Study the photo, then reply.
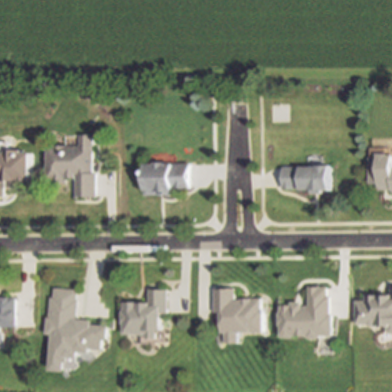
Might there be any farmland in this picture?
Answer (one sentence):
Yes, farmland shows up in the scene.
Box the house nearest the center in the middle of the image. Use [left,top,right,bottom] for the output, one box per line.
[136,162,192,197]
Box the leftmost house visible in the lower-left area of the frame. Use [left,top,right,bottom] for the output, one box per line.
[0,294,17,328]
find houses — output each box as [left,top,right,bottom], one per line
[366,153,392,194]
[212,287,263,344]
[276,286,331,341]
[44,287,108,372]
[276,165,332,196]
[0,147,28,198]
[354,294,392,334]
[136,162,192,197]
[120,289,168,340]
[0,294,17,328]
[45,134,97,197]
